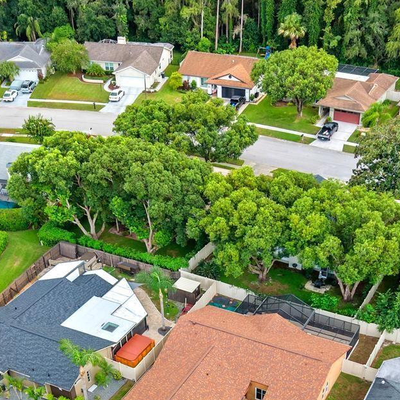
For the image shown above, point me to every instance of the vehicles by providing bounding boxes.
[229,93,244,108]
[318,121,337,138]
[2,92,15,102]
[20,80,34,93]
[9,82,22,92]
[109,91,122,102]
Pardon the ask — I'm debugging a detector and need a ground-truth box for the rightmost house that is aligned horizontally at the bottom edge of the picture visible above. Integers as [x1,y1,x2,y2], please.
[123,305,353,400]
